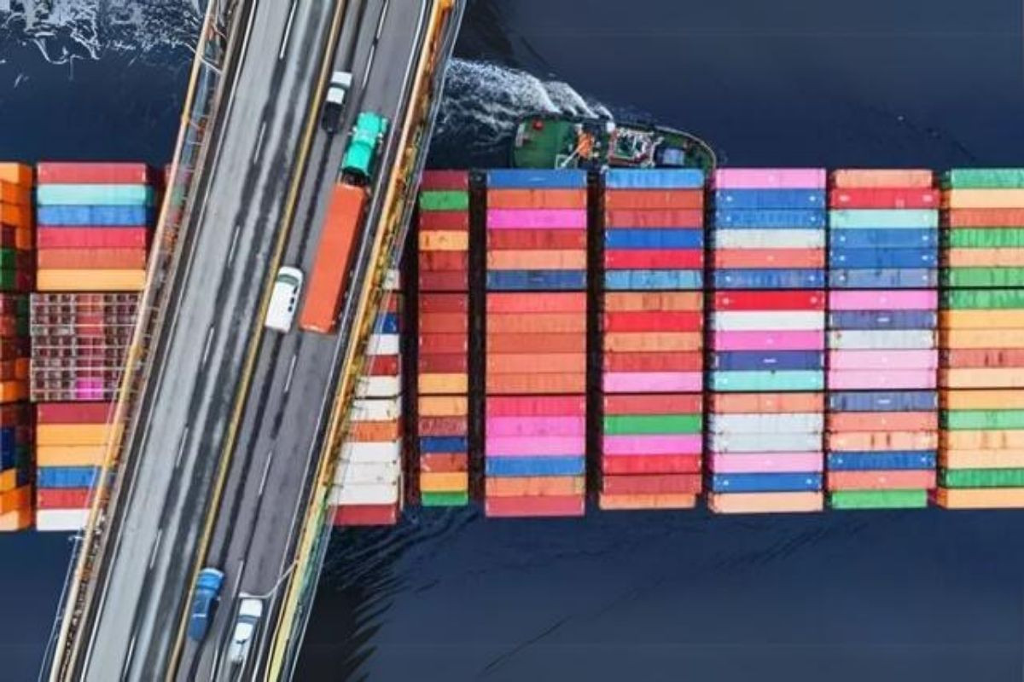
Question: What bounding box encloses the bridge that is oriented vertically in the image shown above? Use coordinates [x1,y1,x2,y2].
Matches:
[31,0,469,682]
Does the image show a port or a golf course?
port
